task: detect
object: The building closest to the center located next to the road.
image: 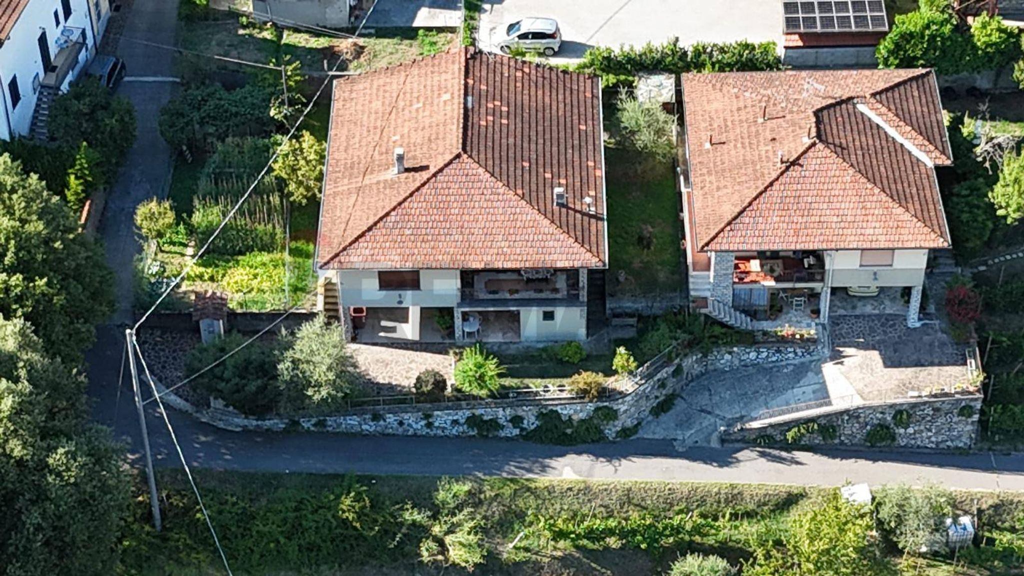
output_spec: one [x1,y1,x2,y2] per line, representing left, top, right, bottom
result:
[314,45,610,345]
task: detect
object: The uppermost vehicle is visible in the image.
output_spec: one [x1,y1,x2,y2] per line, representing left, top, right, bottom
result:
[494,21,562,60]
